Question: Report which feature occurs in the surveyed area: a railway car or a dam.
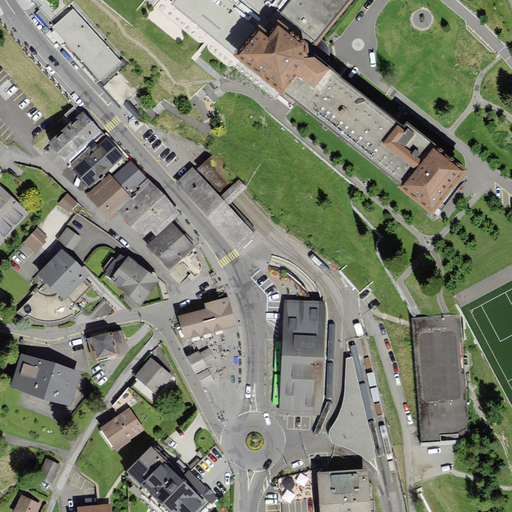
railway car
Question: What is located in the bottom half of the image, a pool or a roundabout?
roundabout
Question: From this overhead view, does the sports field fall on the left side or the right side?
right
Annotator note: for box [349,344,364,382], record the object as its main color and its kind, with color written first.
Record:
gray rail car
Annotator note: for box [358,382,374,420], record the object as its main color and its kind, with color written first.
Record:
gray rail car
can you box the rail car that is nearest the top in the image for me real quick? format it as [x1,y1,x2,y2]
[308,252,330,274]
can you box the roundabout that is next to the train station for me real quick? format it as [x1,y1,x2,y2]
[227,413,282,468]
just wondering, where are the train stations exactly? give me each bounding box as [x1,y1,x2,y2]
[280,300,325,415]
